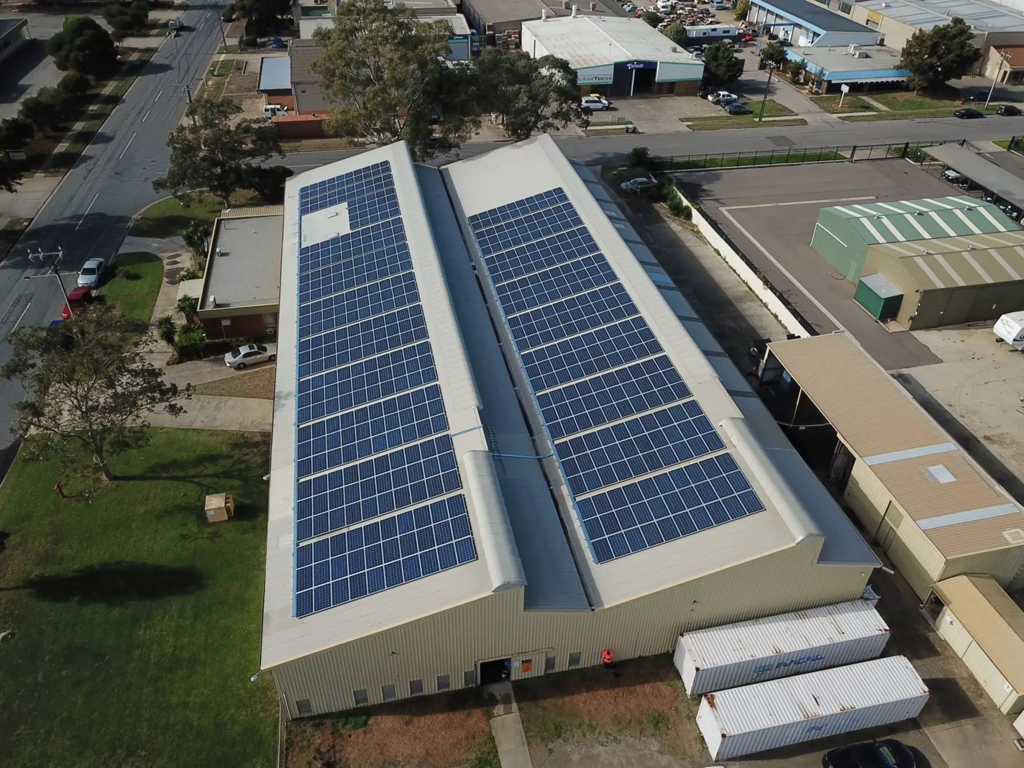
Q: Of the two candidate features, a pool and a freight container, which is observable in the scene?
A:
freight container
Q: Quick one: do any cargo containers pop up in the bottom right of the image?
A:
Yes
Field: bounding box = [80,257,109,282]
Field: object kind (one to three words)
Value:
car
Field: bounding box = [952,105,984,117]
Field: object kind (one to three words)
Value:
vehicle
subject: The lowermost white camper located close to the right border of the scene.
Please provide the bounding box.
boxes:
[995,309,1024,356]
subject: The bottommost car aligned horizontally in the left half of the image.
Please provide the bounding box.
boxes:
[229,340,275,366]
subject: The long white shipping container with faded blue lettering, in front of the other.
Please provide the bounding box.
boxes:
[697,654,930,761]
